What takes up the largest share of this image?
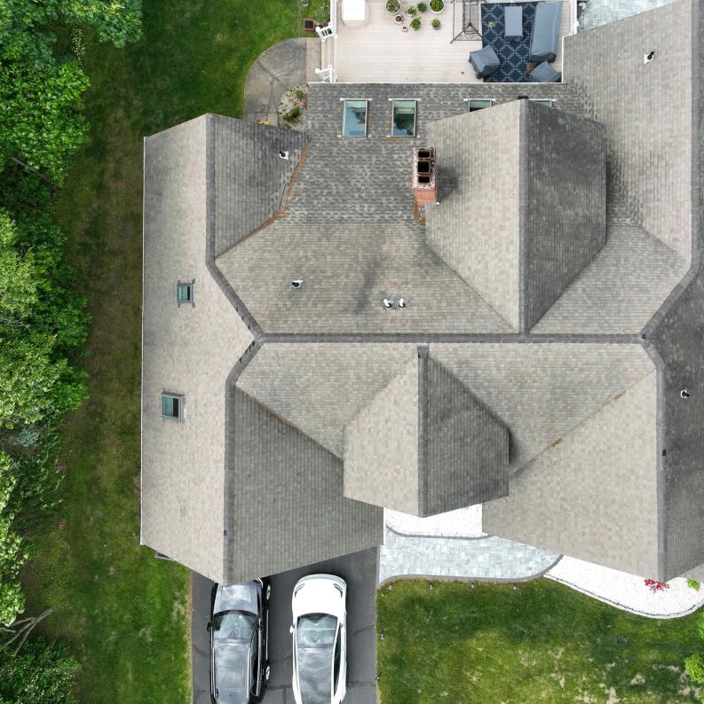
buildings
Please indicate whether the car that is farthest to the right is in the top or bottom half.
bottom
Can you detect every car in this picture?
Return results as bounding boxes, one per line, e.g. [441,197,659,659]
[287,569,348,704]
[203,574,270,704]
